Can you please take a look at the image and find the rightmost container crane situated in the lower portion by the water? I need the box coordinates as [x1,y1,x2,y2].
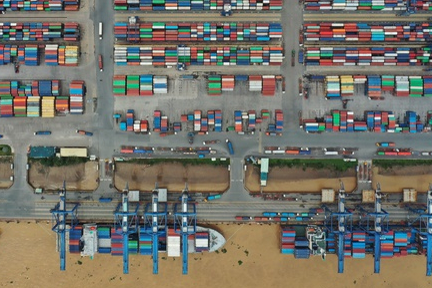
[400,182,432,275]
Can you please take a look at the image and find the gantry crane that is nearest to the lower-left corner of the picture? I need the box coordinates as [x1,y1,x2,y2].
[52,179,83,271]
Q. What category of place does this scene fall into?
port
